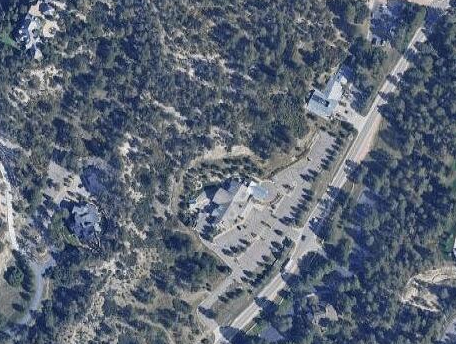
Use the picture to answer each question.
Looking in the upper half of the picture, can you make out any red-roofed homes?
No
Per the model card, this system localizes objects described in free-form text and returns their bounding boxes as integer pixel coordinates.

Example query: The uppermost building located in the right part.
[307,73,349,117]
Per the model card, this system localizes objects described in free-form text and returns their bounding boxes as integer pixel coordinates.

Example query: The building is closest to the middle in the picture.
[195,177,269,231]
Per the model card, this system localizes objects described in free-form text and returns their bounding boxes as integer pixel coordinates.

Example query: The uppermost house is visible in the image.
[19,4,54,52]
